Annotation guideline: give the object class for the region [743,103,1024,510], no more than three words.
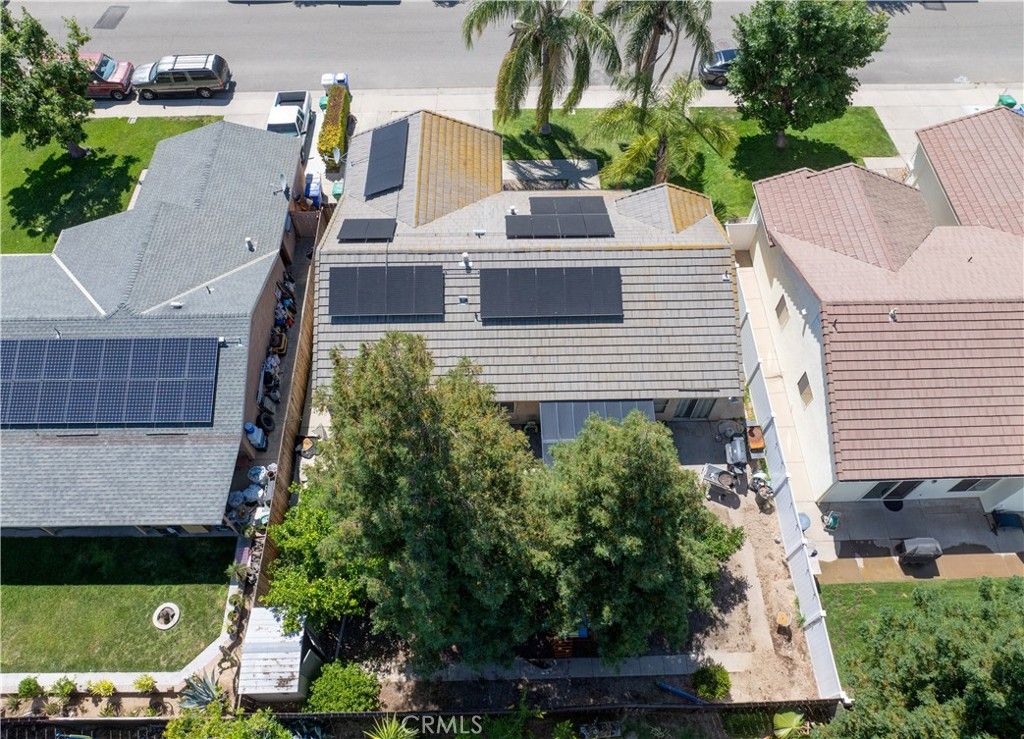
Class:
house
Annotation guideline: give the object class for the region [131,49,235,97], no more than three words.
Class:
car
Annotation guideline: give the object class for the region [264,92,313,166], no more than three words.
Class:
truck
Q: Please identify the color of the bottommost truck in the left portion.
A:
white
